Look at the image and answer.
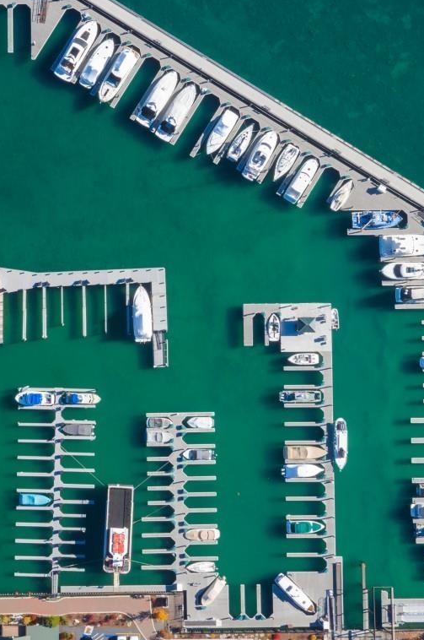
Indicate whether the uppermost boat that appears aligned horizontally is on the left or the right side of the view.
right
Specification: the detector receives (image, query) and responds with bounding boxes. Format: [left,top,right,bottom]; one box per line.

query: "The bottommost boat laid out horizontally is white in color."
[181,561,218,573]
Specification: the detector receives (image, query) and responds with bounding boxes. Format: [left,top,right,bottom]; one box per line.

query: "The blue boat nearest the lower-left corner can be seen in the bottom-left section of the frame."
[19,491,52,506]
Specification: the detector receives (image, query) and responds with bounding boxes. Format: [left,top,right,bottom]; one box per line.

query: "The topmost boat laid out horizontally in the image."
[350,209,403,229]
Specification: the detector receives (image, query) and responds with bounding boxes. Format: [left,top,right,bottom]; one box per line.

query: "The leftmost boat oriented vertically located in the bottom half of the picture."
[104,485,134,575]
